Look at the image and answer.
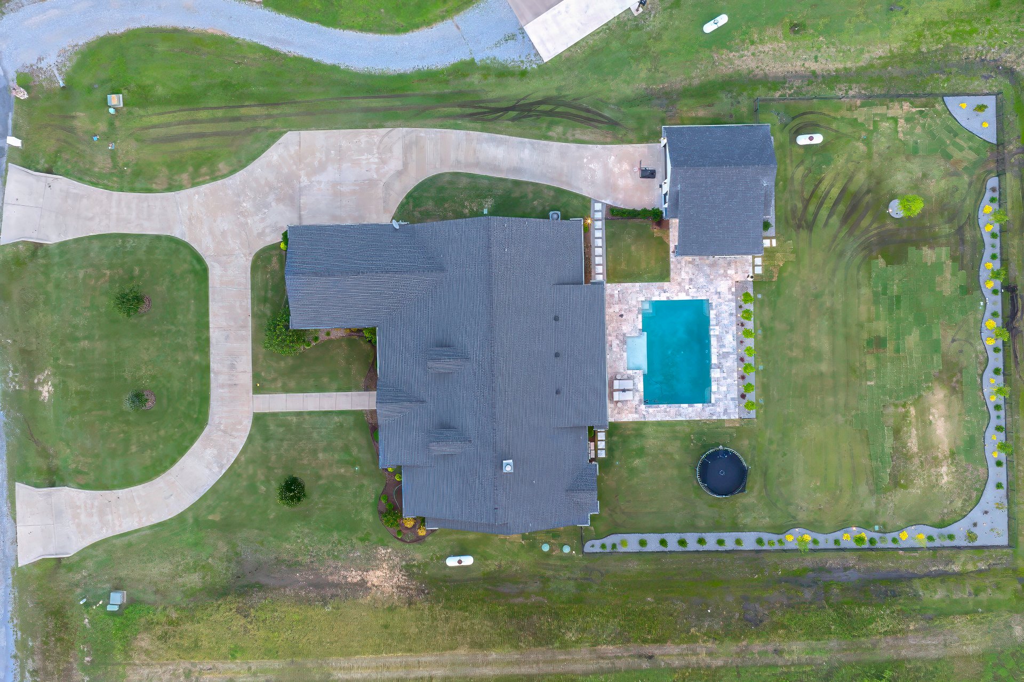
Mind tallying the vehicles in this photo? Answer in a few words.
none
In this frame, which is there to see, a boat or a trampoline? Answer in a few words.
trampoline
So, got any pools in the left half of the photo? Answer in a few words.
No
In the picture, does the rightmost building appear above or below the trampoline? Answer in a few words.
above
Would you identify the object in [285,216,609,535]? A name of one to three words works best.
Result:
house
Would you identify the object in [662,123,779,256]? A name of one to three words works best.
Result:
building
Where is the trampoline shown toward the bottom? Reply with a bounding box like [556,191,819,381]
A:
[696,445,751,497]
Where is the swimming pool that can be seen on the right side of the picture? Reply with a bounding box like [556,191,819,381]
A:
[627,299,710,405]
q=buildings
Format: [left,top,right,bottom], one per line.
[662,123,779,256]
[285,216,609,535]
